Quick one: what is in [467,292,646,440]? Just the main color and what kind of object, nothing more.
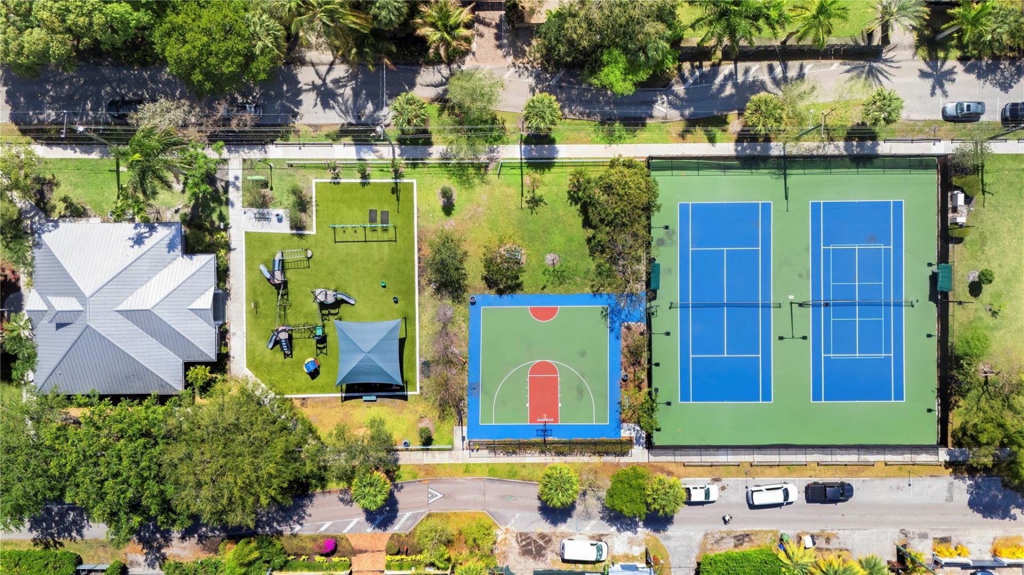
green basketball court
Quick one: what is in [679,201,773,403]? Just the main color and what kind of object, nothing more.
blue tennis court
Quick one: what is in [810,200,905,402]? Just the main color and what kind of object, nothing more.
blue tennis court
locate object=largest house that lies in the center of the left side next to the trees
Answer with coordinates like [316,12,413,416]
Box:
[25,222,226,395]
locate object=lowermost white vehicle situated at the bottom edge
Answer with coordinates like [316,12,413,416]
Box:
[559,537,607,562]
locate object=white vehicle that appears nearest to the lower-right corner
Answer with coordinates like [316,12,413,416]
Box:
[746,483,795,505]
